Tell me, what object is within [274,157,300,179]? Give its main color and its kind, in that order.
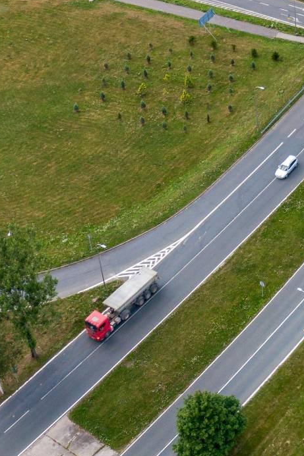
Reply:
white car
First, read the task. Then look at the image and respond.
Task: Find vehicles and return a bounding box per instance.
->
[274,157,300,179]
[85,270,157,340]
